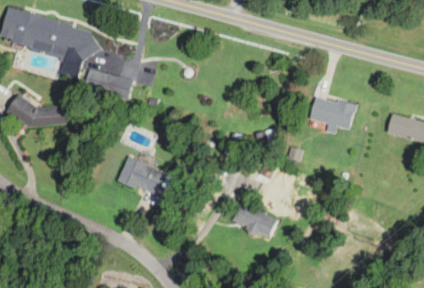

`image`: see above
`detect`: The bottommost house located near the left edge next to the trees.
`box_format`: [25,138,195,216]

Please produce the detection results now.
[6,96,67,134]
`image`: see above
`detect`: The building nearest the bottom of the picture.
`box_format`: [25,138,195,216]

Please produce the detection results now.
[234,208,278,238]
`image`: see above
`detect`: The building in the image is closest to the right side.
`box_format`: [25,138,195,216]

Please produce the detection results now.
[388,114,424,142]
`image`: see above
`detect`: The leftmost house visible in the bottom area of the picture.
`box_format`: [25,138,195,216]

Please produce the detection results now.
[118,154,164,196]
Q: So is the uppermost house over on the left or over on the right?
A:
left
